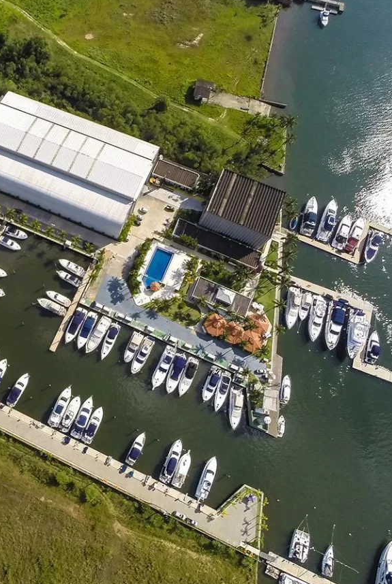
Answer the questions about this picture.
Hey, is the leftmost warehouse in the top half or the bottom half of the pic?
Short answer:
top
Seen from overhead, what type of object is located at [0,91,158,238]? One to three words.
warehouse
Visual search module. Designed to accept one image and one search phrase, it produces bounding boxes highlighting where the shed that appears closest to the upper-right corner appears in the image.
[193,79,215,102]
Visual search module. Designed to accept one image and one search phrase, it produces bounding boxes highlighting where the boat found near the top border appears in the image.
[317,6,333,27]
